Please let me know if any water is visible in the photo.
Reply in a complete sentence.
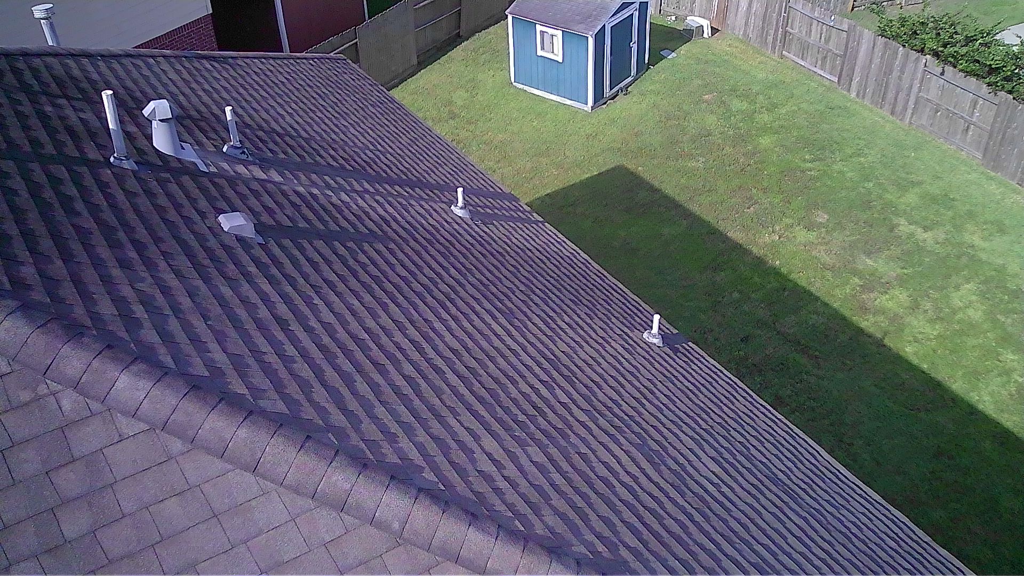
No, no water is visible.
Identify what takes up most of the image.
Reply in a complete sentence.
For the most part, this view shows buildings.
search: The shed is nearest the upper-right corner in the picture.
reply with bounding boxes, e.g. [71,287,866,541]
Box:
[506,0,654,111]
